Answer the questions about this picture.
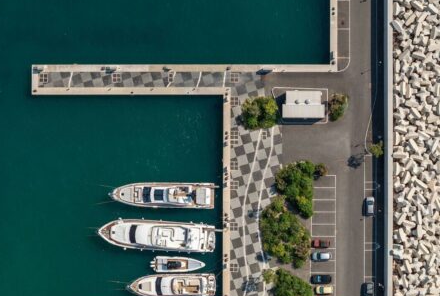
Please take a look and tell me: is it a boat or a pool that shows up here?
boat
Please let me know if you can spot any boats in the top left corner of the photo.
No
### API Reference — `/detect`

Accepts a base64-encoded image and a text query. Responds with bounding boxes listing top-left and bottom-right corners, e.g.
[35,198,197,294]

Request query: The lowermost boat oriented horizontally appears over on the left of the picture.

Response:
[110,268,225,296]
